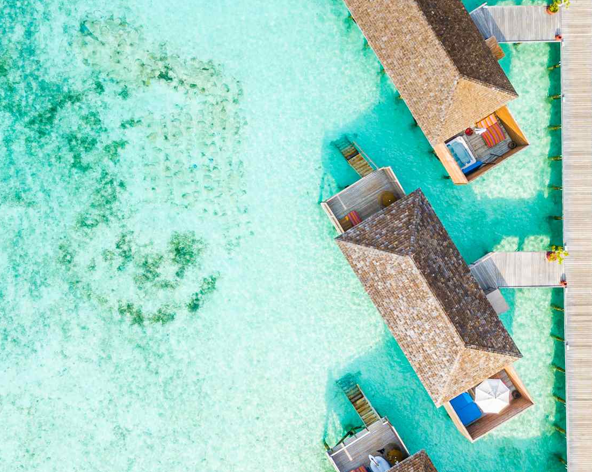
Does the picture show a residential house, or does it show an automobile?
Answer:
residential house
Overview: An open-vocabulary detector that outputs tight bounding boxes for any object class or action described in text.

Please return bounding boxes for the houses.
[331,0,528,183]
[320,367,438,472]
[315,133,527,439]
